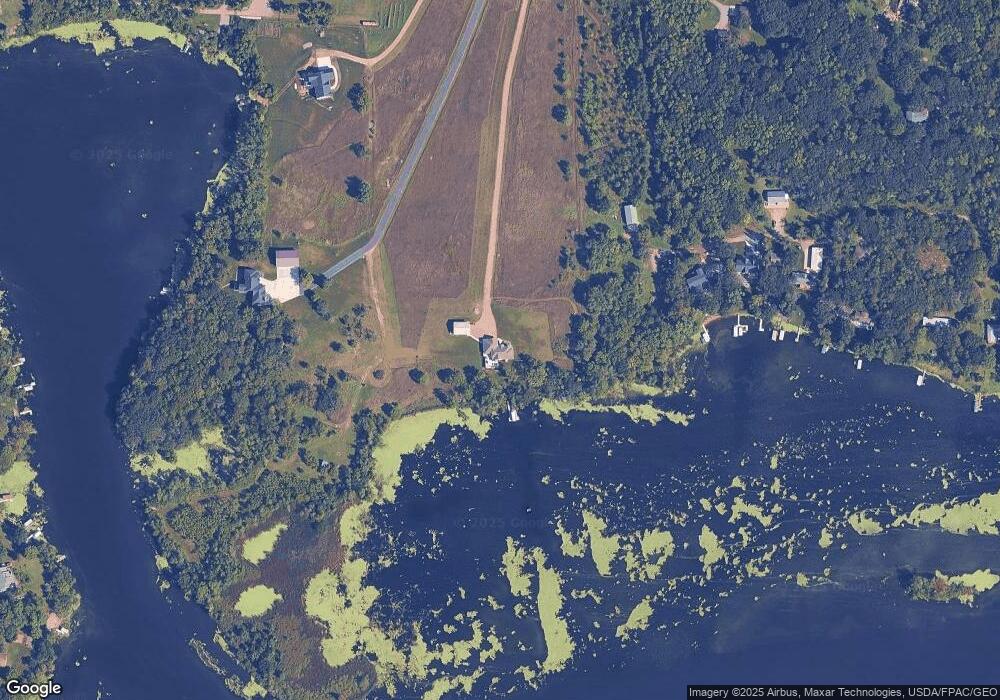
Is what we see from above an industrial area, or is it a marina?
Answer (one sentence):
This looks like a marina.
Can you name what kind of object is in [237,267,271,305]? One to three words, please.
house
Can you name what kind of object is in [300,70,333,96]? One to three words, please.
house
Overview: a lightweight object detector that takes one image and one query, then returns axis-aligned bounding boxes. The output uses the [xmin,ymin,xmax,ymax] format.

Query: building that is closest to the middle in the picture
[482,338,517,366]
